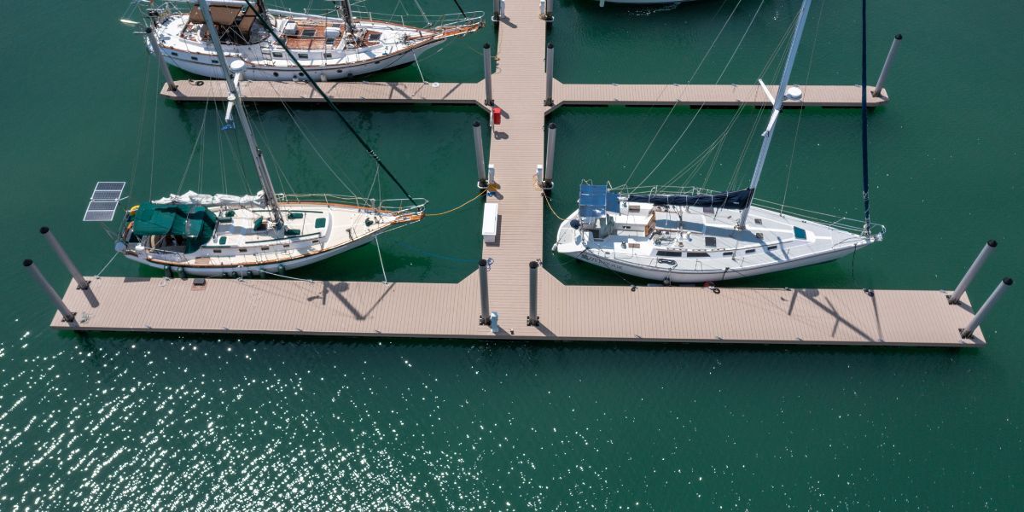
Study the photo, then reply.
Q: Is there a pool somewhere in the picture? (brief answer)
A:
No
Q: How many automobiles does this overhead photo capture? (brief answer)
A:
none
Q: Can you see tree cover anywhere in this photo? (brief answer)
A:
No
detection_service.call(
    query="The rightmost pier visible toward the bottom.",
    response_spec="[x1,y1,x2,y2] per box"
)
[542,268,986,349]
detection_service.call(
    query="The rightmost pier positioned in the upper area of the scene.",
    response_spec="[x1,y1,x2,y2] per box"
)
[542,75,886,116]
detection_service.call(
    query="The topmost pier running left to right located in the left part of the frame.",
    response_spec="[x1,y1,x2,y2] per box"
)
[163,74,495,114]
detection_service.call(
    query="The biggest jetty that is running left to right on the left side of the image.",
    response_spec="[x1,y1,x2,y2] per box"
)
[50,271,478,339]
